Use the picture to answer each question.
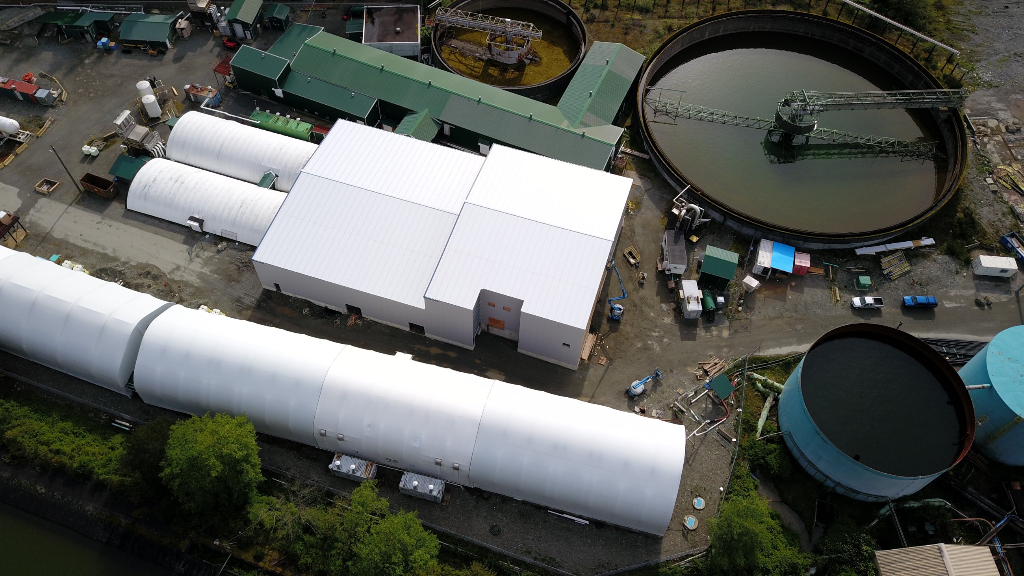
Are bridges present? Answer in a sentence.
Yes, looking at the shot, I can spot a bridge.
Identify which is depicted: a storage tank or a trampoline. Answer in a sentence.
This aerial view contains a storage tank.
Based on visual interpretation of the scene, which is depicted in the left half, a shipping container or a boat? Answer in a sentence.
Looking in the left half, you will find a shipping container.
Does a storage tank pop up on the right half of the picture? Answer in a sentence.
Yes, on the right half of the picture there is a storage tank.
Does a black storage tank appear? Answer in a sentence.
Yes, a black storage tank appears in the view.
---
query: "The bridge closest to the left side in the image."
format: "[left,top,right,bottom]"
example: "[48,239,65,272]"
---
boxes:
[420,7,542,40]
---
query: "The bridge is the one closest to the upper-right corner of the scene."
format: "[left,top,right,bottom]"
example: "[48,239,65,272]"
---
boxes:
[648,88,967,165]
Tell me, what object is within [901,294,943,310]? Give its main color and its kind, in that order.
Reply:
blue vehicle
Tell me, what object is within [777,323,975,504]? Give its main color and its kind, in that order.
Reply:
black storage tank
